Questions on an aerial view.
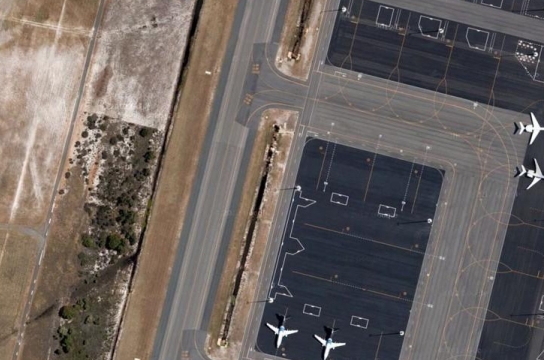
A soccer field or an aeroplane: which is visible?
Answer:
aeroplane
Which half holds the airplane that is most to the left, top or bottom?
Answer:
bottom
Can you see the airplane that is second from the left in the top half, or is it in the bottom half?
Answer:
bottom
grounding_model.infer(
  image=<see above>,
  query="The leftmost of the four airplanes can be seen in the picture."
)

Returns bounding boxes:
[268,308,299,348]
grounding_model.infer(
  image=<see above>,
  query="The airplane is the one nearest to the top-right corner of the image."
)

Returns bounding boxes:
[520,113,544,144]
